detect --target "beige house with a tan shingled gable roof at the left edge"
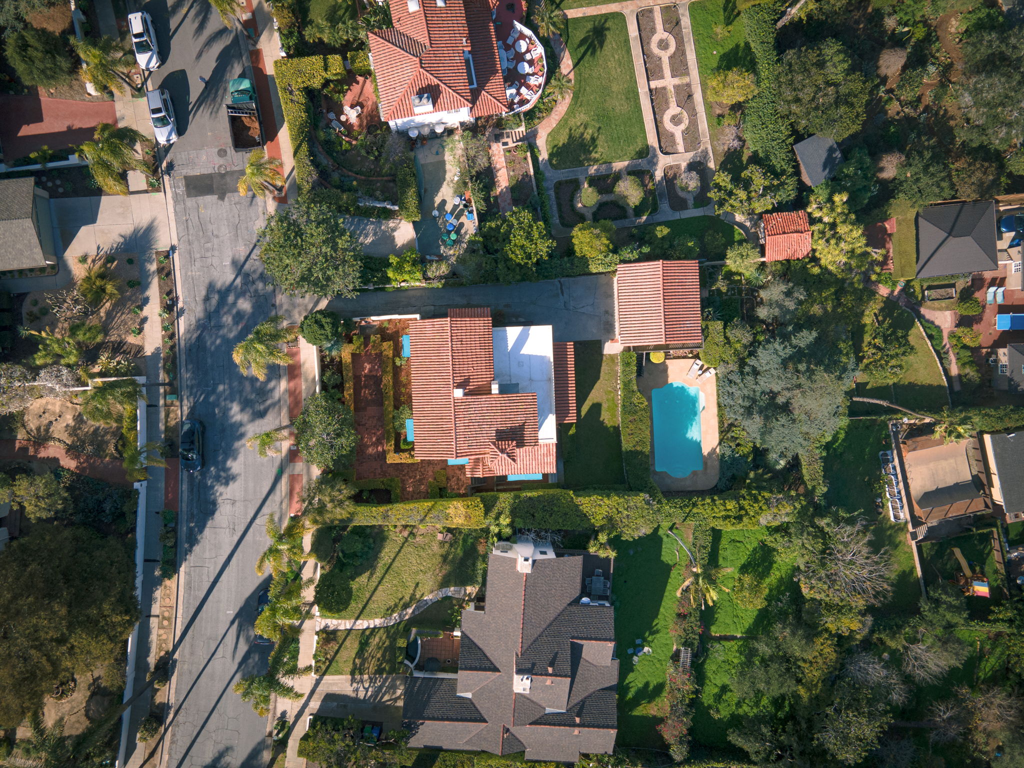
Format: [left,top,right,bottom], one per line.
[0,173,56,270]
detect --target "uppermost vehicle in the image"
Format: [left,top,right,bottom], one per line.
[125,10,168,75]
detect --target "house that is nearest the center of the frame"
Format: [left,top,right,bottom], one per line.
[402,306,578,481]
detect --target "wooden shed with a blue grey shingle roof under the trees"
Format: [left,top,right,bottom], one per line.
[789,134,844,190]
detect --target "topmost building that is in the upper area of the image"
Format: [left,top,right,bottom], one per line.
[366,0,510,138]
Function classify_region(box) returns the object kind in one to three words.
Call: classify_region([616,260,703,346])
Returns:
building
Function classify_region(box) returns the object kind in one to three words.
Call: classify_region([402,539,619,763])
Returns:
house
